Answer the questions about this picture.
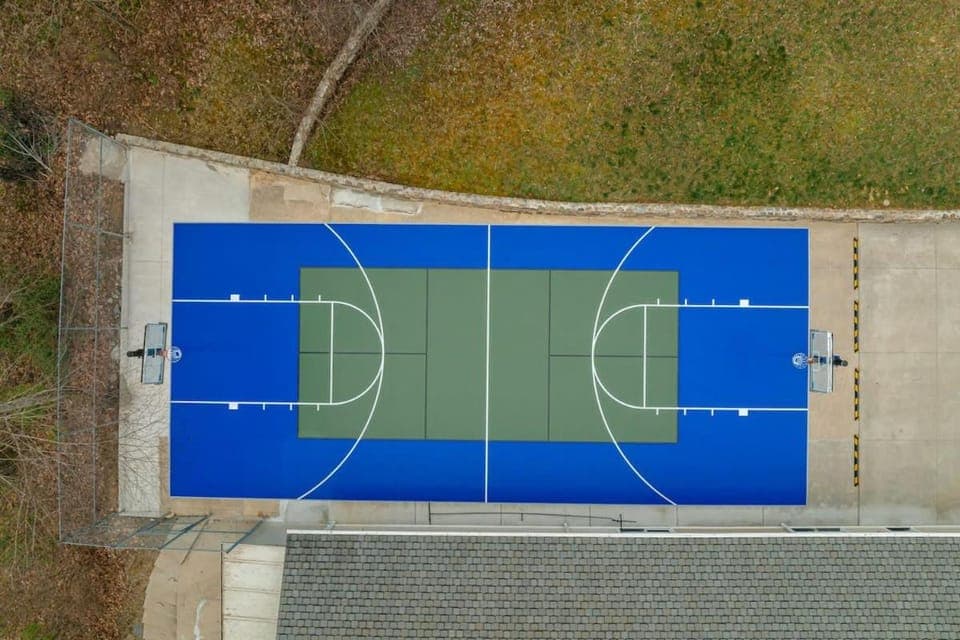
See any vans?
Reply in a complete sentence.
No, I find no van anywhere in the image.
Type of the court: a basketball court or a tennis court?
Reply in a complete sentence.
Specifically, the court is a basketball court.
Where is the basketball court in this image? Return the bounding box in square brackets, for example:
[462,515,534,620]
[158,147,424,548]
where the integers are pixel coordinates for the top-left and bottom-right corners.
[170,222,809,504]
